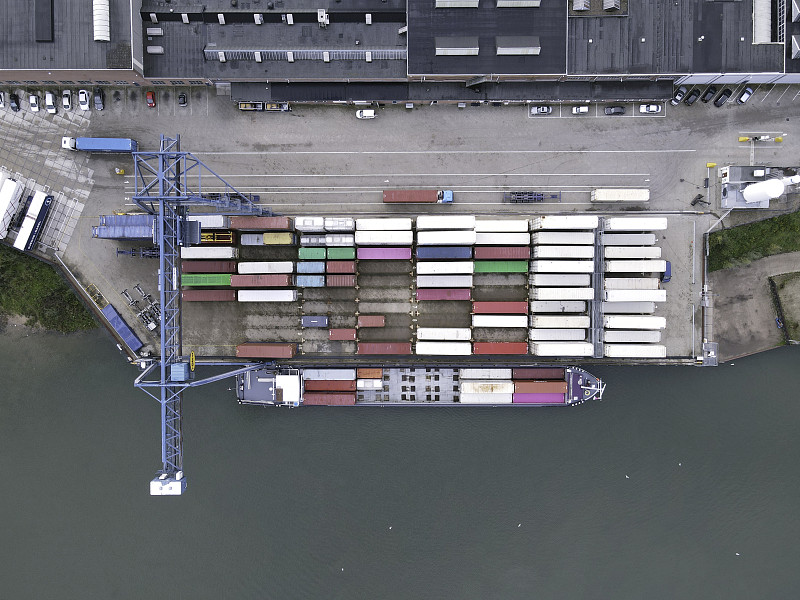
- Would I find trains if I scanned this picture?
No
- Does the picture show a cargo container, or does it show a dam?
cargo container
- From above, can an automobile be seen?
Yes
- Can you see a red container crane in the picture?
No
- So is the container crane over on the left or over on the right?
left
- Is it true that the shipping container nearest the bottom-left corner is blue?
Yes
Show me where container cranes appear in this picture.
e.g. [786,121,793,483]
[130,133,278,495]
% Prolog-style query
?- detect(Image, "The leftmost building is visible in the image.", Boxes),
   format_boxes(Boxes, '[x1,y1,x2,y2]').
[0,0,151,85]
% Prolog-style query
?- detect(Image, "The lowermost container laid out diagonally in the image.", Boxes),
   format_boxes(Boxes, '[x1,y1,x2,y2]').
[102,303,148,352]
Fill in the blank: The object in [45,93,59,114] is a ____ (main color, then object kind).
white vehicle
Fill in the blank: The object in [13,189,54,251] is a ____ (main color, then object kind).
white trailer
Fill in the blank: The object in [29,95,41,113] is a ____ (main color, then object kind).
white vehicle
